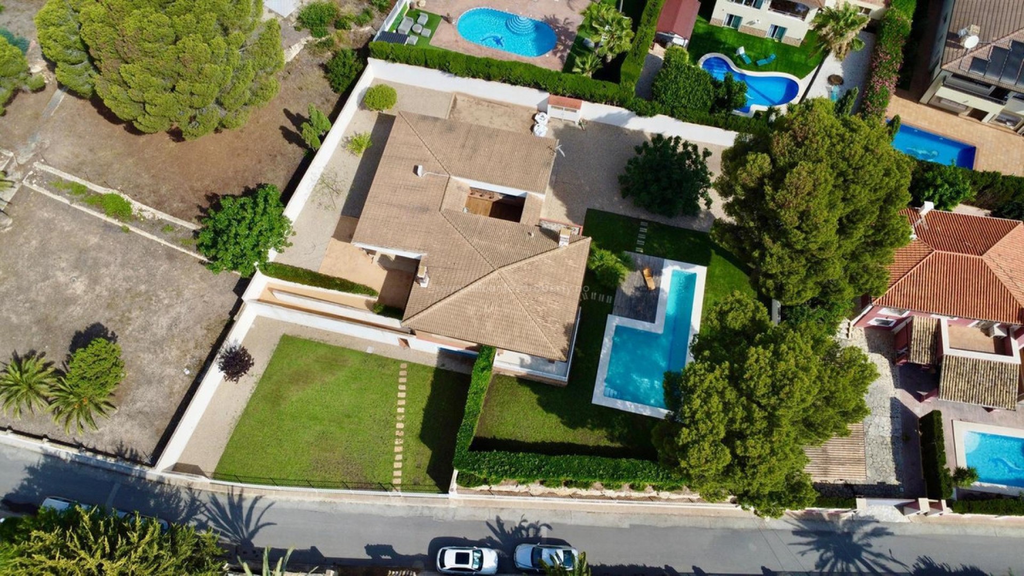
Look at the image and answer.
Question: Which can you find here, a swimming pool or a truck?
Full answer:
This aerial view contains a swimming pool.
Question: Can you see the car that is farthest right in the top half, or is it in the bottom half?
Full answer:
The car that is farthest right is in the bottom half of the image.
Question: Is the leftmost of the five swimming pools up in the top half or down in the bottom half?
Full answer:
The leftmost of the five swimming pools is in the top half of the image.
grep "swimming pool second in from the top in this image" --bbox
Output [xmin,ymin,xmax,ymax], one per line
[707,57,798,105]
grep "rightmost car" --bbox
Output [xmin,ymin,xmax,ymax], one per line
[515,542,578,574]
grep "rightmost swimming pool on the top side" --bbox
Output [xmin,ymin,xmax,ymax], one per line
[886,121,976,168]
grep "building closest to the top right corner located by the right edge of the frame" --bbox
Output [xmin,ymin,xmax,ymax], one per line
[922,0,1024,132]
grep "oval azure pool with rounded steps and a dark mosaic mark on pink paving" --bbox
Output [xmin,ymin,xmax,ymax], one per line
[457,7,557,56]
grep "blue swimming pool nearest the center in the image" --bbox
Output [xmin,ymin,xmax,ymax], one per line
[604,270,697,409]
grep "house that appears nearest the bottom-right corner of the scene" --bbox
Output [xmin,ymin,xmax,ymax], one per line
[861,203,1024,418]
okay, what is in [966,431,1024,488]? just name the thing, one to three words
swimming pool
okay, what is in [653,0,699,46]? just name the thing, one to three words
shed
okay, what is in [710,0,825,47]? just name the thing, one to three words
house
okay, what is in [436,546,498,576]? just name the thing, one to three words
car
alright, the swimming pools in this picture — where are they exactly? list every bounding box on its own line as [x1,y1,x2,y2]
[707,57,798,105]
[604,270,697,409]
[886,121,976,168]
[457,7,557,56]
[966,431,1024,488]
